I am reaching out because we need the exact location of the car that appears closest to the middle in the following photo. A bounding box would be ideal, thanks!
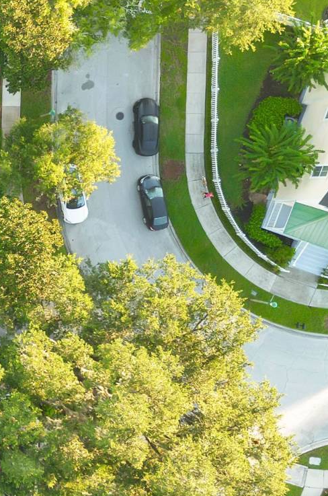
[135,175,165,230]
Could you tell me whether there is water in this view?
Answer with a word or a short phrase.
No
